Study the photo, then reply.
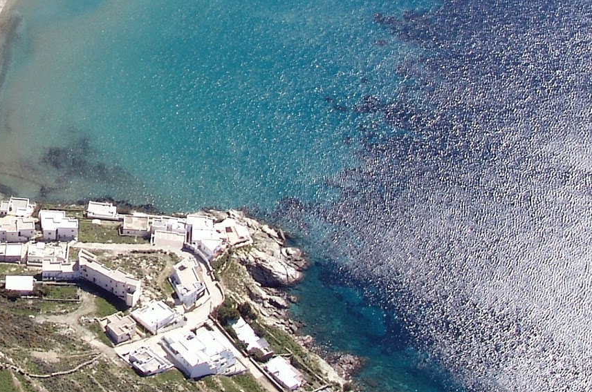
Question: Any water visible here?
Yes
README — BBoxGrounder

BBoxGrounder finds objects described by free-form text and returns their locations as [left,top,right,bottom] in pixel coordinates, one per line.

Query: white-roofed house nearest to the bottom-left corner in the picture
[4,275,35,296]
